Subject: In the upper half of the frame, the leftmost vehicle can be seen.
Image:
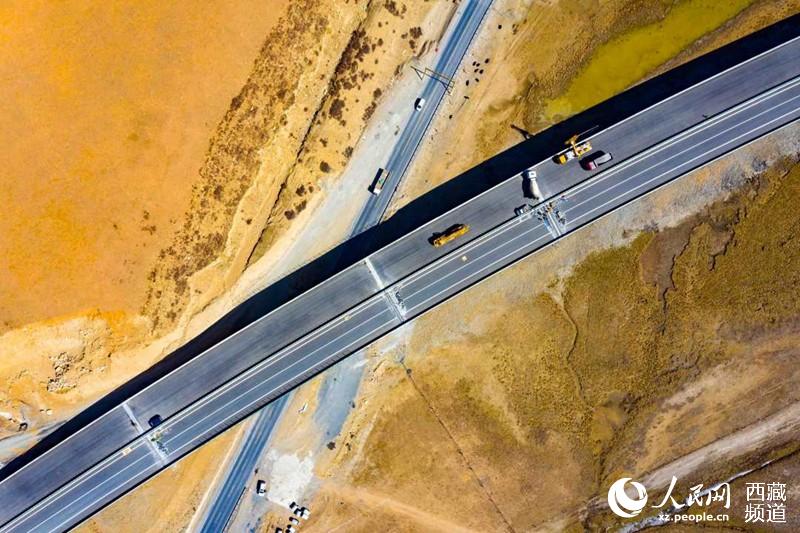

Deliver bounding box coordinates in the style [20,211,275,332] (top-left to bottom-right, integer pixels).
[373,168,390,194]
